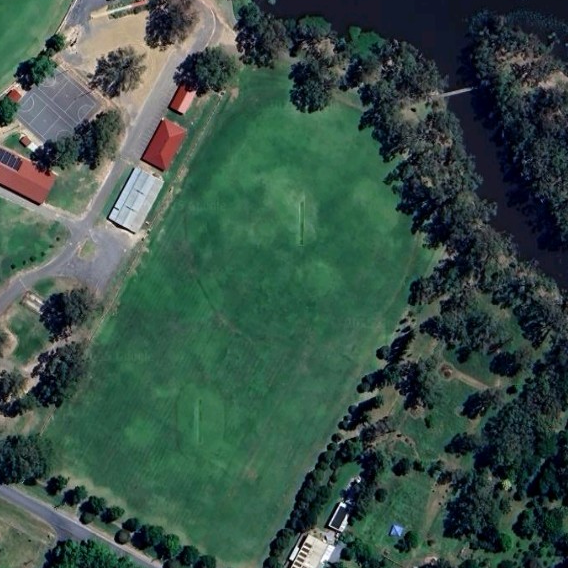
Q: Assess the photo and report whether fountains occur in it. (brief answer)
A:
No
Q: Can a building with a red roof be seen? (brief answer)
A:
Yes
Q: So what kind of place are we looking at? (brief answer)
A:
sports ground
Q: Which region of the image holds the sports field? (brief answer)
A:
center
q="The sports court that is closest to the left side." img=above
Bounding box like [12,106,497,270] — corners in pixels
[18,93,61,140]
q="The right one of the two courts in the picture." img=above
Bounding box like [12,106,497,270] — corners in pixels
[40,69,94,124]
